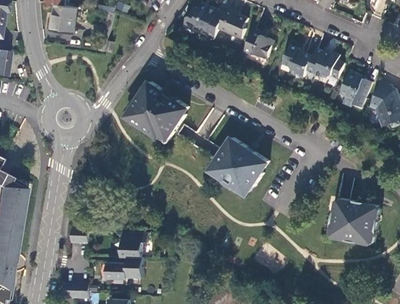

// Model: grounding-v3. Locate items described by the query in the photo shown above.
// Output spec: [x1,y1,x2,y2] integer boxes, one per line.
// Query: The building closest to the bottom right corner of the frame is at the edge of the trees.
[327,198,382,247]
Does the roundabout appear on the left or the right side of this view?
left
